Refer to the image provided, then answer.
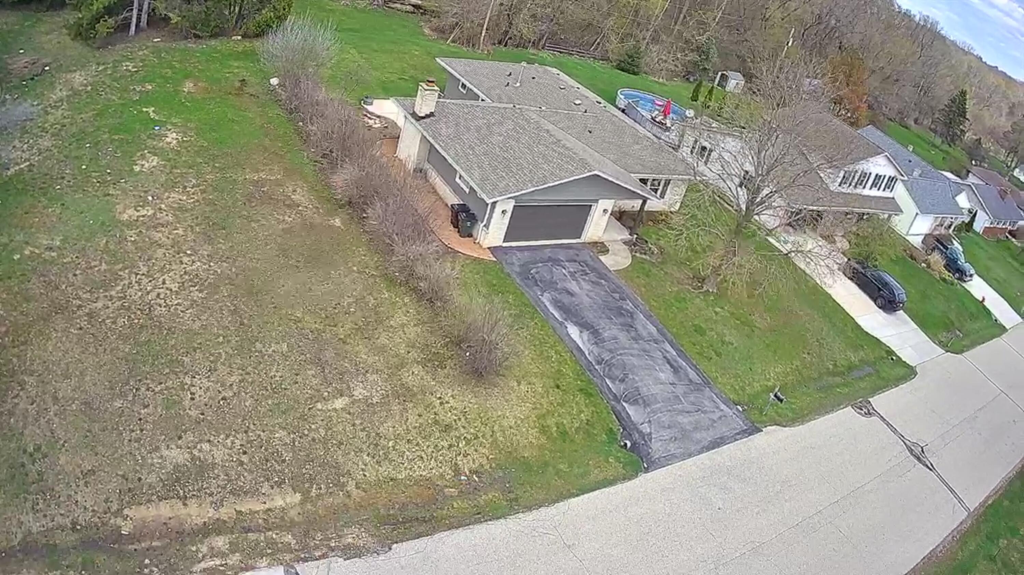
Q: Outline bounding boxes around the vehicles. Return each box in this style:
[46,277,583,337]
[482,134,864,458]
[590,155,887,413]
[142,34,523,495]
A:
[913,228,982,279]
[837,257,911,307]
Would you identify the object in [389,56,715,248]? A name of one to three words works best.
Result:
house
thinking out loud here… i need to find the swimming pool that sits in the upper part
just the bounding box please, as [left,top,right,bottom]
[613,90,701,133]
